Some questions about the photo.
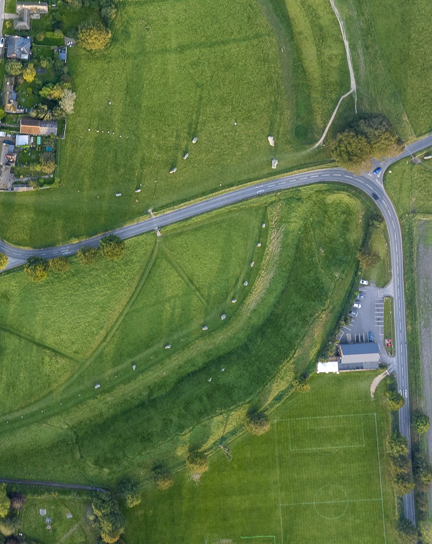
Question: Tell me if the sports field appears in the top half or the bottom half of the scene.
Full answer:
You can find the sports field in the bottom half.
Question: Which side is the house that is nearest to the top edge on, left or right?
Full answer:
It is on the left.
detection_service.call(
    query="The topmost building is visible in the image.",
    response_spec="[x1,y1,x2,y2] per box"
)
[16,3,48,30]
